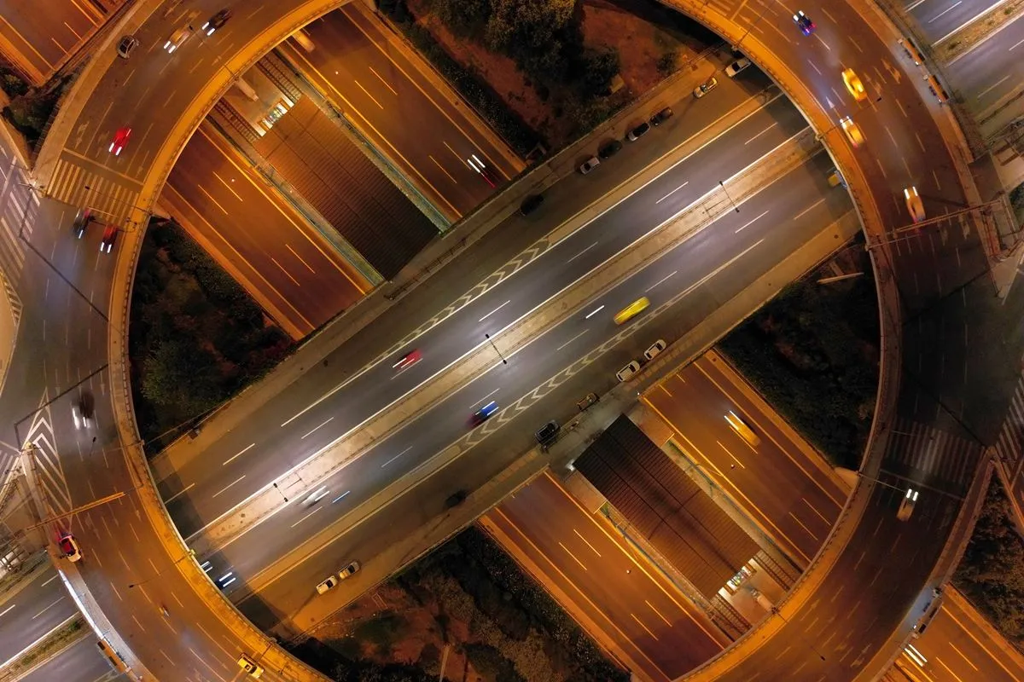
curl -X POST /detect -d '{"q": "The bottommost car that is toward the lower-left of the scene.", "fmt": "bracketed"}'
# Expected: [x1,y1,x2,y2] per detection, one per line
[237,653,264,677]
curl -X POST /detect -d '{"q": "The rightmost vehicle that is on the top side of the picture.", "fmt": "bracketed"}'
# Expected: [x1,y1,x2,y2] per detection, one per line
[905,191,922,219]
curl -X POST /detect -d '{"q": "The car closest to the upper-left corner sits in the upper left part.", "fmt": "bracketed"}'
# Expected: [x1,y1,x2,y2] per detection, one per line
[117,33,139,59]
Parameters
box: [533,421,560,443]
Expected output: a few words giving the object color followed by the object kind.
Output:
black car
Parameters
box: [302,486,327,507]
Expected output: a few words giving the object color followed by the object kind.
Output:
white car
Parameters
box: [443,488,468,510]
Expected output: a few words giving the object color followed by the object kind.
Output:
black car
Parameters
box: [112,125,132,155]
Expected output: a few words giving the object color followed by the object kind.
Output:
red car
